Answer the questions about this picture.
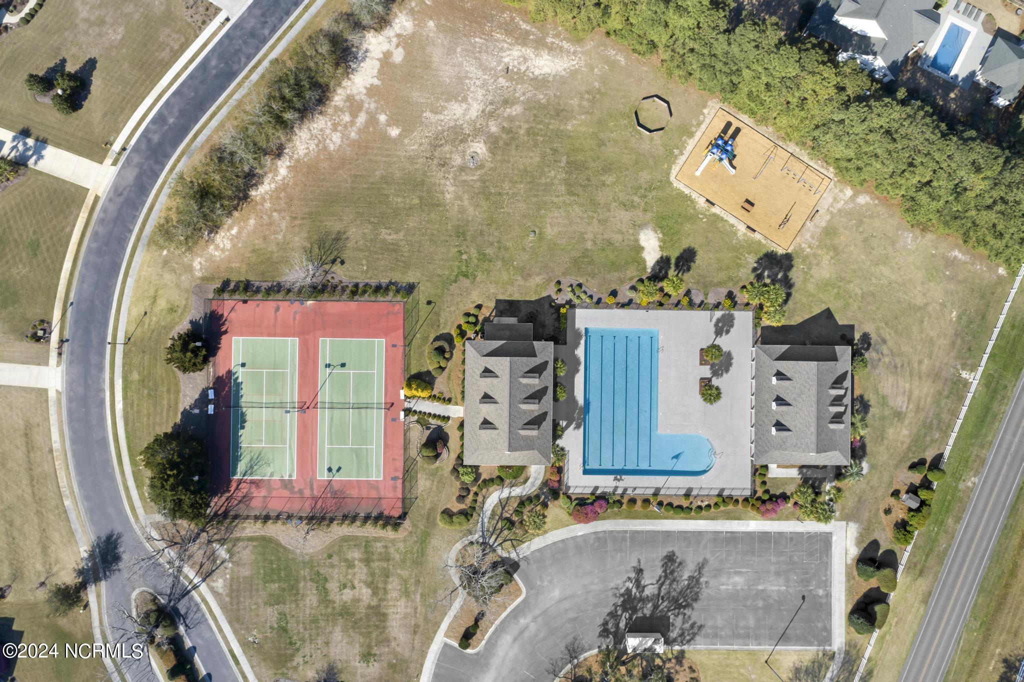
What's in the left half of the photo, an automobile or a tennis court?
tennis court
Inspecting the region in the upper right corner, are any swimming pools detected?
Yes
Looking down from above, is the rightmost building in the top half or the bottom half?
top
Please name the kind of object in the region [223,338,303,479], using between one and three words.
tennis court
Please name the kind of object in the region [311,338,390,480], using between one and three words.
tennis court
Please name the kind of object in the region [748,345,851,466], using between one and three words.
building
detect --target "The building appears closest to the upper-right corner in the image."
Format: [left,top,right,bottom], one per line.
[964,34,1024,103]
